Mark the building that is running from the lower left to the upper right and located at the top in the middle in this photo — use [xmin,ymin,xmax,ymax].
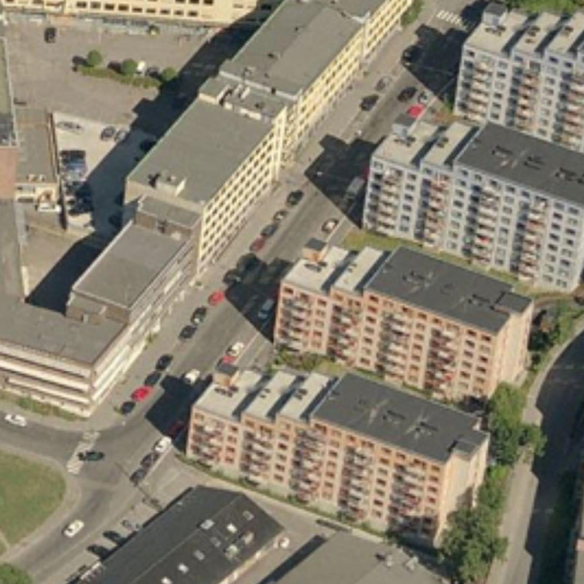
[121,0,412,275]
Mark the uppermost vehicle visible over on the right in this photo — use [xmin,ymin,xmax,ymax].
[403,46,418,60]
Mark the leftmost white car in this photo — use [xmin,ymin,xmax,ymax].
[5,414,27,426]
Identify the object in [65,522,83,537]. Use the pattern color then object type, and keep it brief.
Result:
white car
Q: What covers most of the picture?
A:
buildings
